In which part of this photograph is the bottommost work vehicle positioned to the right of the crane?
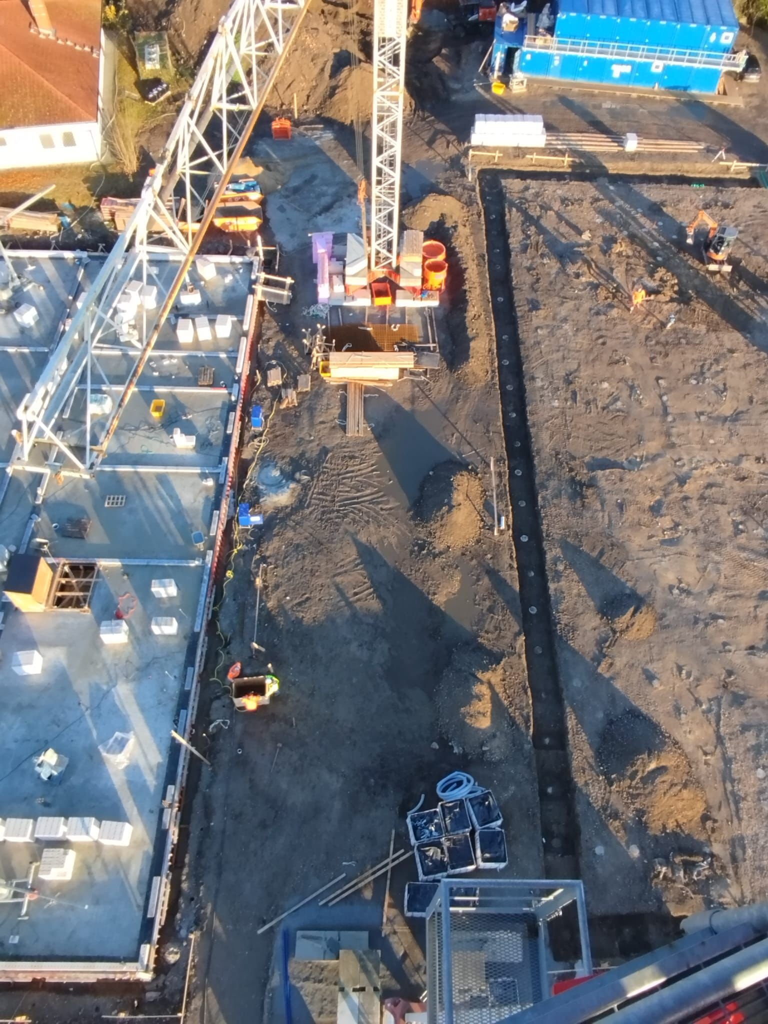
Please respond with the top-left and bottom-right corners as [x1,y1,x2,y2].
[681,222,738,279]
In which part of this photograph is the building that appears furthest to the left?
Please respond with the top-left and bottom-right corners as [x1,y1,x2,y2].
[0,7,100,170]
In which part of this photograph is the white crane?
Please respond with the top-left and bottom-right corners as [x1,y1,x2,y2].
[7,0,430,507]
